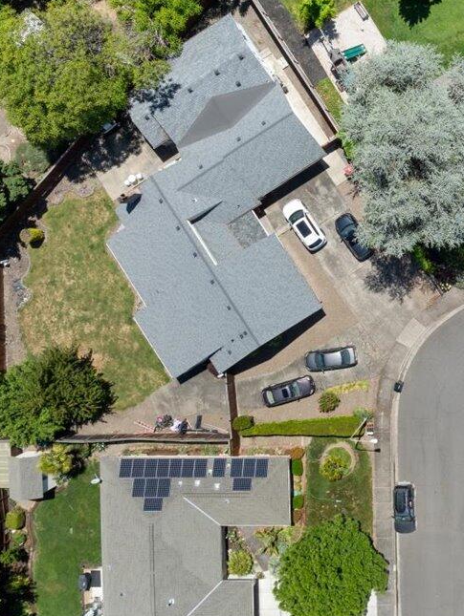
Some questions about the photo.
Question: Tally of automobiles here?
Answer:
5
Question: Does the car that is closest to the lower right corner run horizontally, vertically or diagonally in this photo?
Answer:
vertically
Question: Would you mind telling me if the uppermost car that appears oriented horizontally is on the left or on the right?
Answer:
right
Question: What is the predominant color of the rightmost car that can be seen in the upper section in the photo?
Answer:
black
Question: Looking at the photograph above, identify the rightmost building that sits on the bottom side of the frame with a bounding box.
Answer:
[100,454,299,616]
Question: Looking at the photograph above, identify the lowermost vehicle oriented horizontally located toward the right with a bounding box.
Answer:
[258,377,316,409]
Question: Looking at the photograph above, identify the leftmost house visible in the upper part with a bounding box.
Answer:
[105,13,327,377]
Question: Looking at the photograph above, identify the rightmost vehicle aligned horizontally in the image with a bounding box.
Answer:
[303,346,358,374]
